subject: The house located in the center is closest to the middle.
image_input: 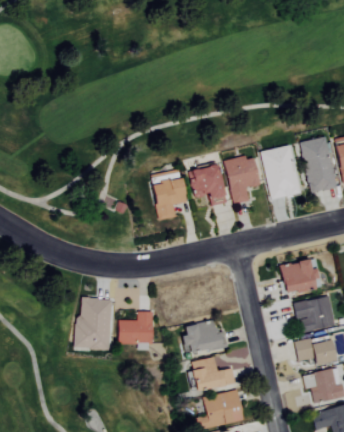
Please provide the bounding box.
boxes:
[150,168,188,221]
